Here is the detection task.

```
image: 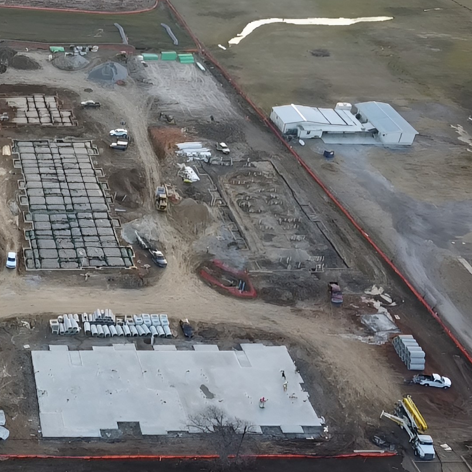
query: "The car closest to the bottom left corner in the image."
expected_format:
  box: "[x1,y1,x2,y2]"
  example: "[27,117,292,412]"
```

[5,249,19,269]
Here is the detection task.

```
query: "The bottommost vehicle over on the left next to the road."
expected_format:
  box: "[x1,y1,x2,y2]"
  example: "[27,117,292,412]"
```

[176,313,196,340]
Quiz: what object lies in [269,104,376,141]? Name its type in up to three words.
barn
